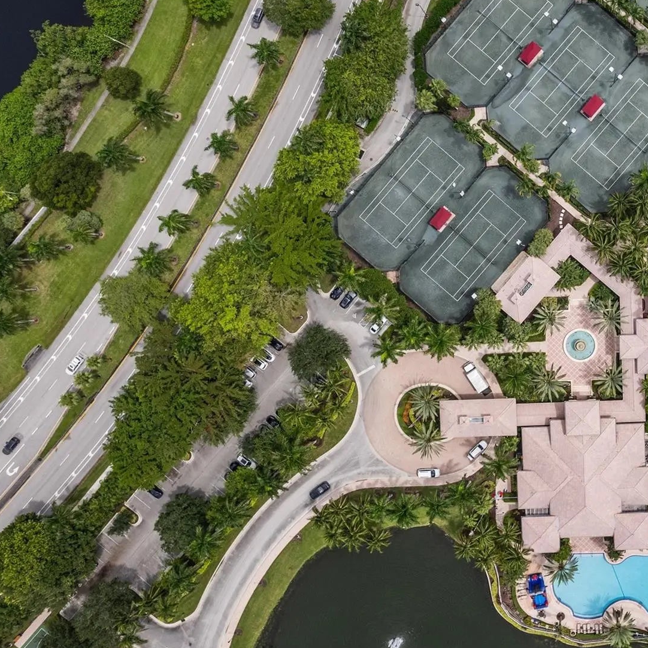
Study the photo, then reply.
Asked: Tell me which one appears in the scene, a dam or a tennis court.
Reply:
tennis court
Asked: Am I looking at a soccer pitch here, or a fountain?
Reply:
fountain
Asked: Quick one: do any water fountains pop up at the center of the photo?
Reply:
No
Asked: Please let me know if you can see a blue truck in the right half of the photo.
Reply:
No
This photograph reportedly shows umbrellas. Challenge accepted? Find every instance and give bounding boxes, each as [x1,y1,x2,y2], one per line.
[556,611,565,620]
[537,610,546,619]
